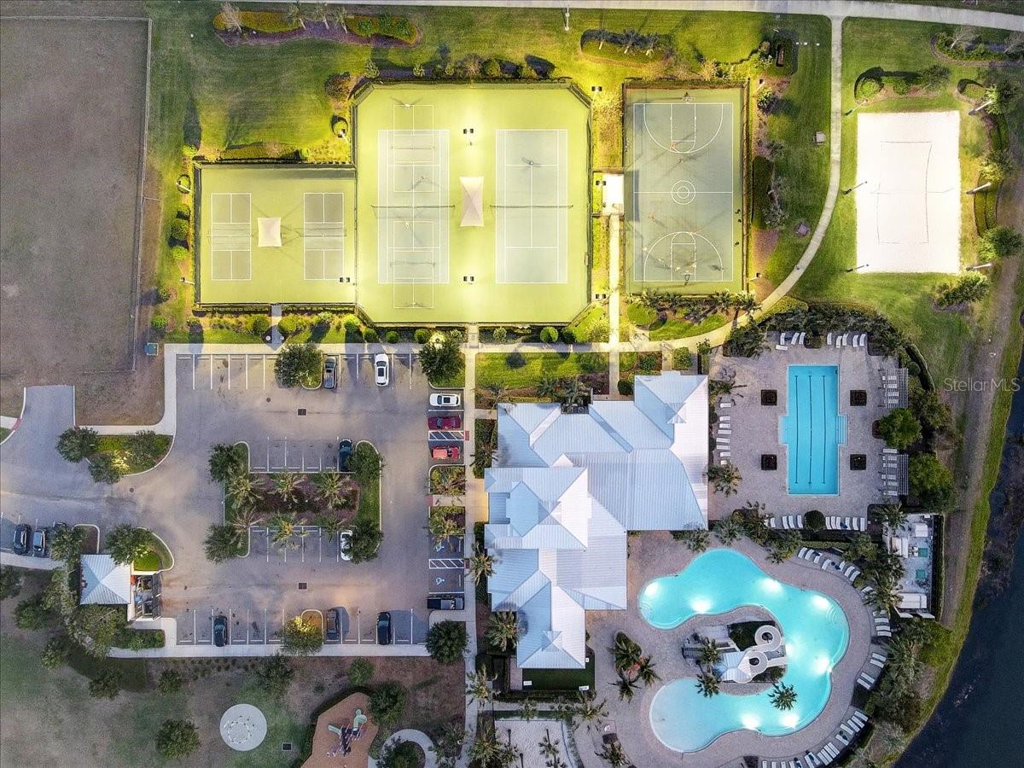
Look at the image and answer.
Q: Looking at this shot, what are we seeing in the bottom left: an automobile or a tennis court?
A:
automobile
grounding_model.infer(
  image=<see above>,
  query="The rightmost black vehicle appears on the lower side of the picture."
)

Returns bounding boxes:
[427,594,464,611]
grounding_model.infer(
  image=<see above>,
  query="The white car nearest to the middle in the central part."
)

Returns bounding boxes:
[429,392,460,407]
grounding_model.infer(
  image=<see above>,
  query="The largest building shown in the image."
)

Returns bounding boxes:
[485,375,708,669]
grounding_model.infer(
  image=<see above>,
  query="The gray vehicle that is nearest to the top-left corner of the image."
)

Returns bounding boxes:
[323,356,338,388]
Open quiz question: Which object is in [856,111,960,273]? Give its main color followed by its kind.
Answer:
white sports court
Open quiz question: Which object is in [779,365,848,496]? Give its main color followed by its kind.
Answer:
blue swimming pool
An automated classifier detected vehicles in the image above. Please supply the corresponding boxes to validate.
[326,607,341,639]
[338,440,353,471]
[376,612,391,644]
[323,356,338,388]
[374,354,388,385]
[429,415,460,430]
[429,392,460,407]
[212,614,229,646]
[15,522,33,555]
[32,526,51,559]
[427,594,464,611]
[339,529,353,561]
